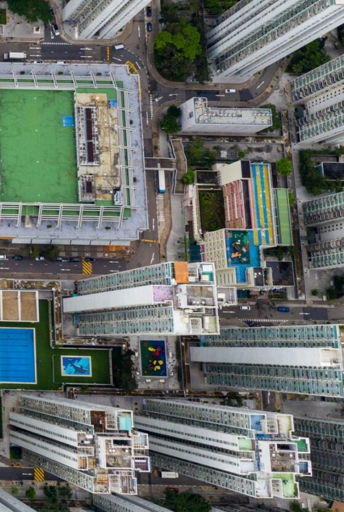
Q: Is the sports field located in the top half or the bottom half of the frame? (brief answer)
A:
top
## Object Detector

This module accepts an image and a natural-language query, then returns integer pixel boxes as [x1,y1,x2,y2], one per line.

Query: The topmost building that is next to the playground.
[71,262,237,337]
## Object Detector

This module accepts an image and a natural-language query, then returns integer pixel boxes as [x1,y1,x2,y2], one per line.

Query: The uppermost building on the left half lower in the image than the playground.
[12,396,150,495]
